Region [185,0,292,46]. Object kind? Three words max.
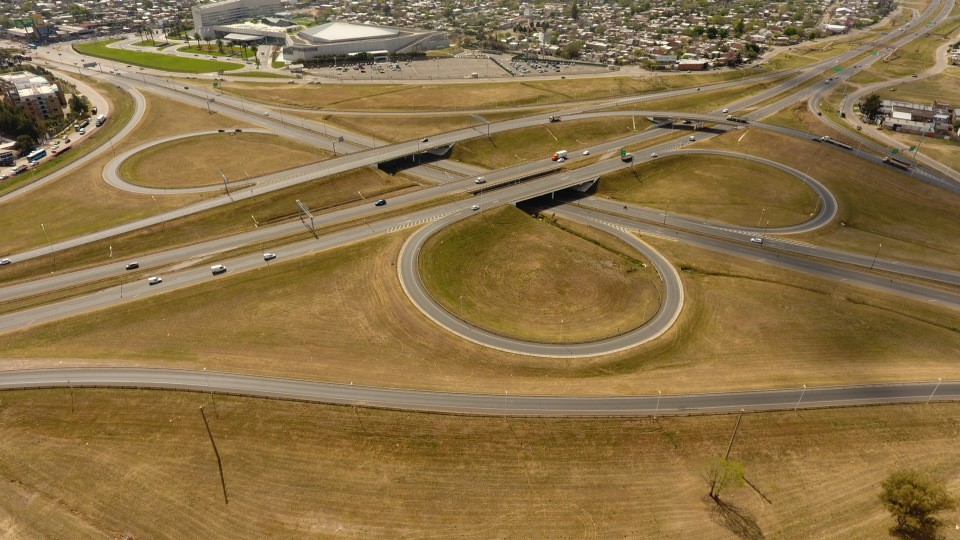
building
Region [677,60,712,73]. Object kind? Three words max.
building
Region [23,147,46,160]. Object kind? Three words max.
vehicle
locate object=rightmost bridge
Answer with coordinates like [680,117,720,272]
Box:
[638,111,742,135]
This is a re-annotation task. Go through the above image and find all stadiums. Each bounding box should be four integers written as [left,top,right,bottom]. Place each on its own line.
[282,20,450,66]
